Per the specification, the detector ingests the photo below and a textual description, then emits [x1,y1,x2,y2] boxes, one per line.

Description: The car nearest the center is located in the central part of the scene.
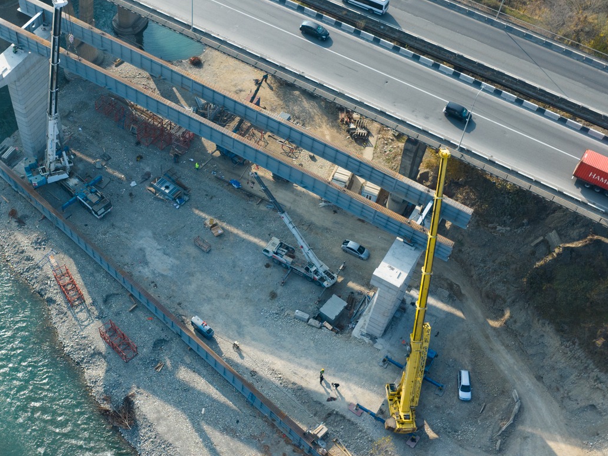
[341,239,370,261]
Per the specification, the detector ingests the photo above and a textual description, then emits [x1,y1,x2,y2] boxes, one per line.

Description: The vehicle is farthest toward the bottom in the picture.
[457,368,476,400]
